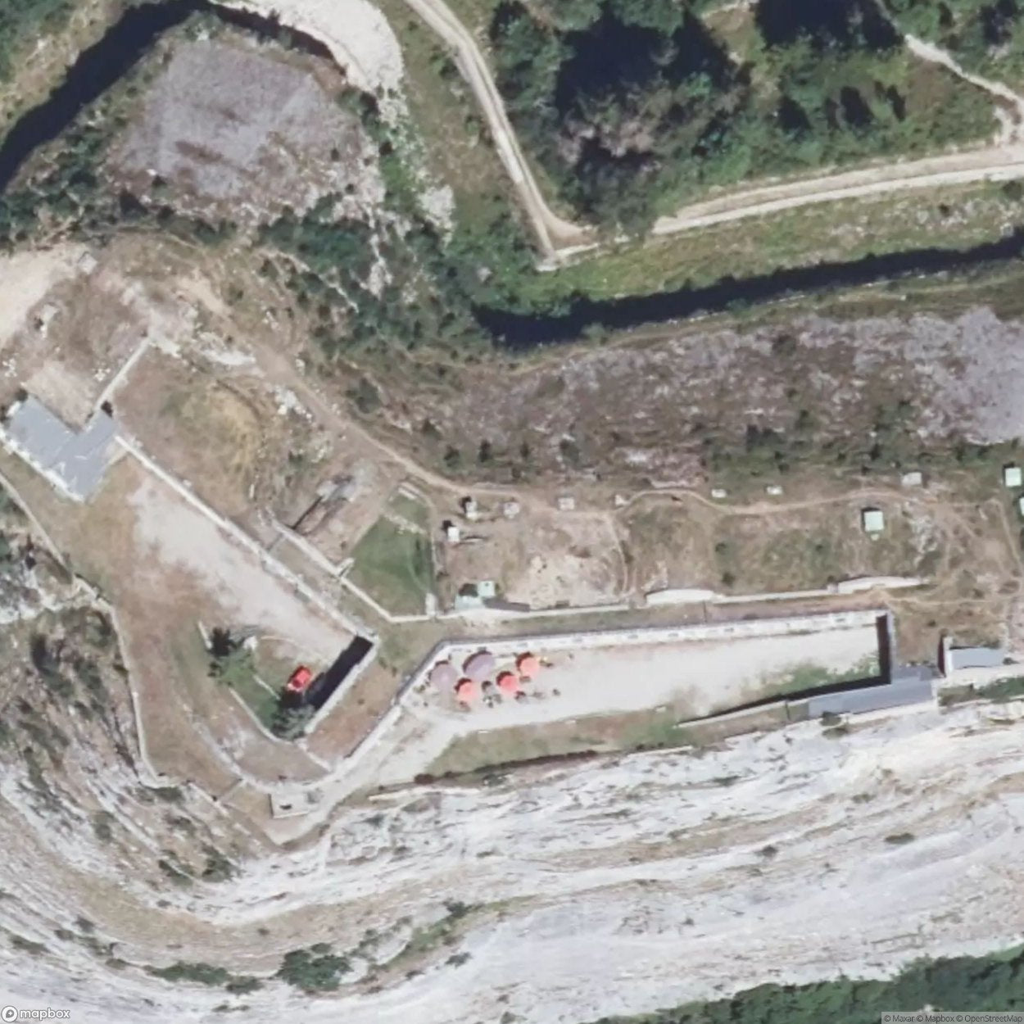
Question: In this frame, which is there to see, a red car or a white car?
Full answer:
Of the two, only a red car appears.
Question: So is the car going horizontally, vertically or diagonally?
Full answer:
From this overhead view, the car appears to run diagonally.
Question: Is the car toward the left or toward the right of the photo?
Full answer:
The car is on the left side of the image.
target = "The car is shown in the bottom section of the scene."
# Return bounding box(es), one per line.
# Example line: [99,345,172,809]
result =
[286,665,310,693]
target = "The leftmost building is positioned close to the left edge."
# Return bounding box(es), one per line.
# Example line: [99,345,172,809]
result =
[8,394,80,470]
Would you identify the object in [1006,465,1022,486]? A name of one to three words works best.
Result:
shed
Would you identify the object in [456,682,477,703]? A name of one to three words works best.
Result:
umbrella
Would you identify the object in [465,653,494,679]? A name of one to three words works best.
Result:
umbrella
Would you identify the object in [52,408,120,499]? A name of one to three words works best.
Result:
house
